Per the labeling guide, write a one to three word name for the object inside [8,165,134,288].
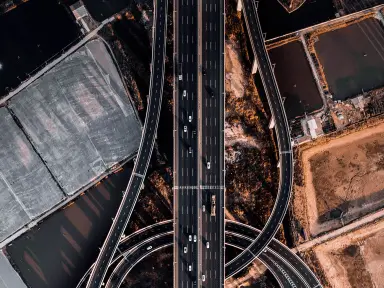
pond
